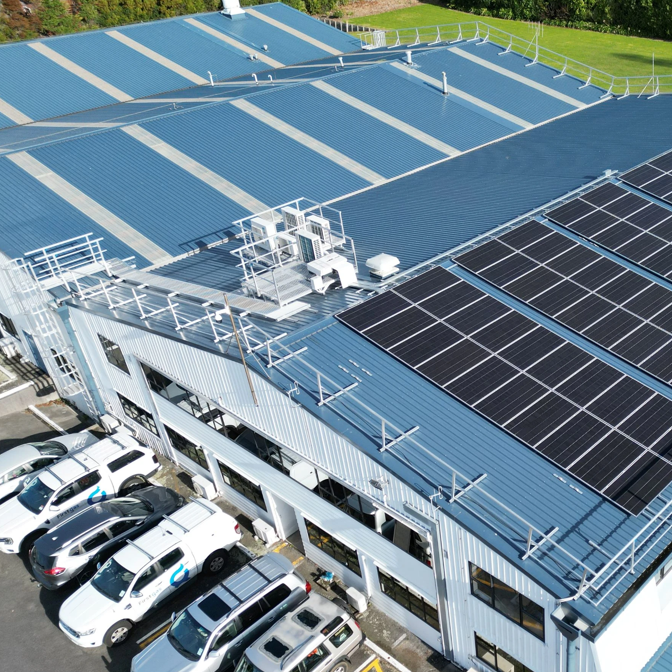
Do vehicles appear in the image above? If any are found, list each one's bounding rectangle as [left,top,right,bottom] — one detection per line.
[0,424,101,507]
[219,585,375,672]
[52,498,248,656]
[127,546,313,672]
[21,483,186,594]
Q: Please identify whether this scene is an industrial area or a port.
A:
industrial area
